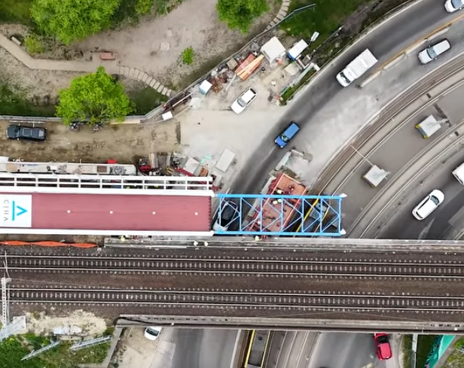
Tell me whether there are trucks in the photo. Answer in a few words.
Yes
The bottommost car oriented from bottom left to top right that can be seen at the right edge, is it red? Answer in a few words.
No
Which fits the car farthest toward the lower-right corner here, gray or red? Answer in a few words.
red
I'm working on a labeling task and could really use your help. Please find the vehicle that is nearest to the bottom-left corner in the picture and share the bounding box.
[142,328,159,341]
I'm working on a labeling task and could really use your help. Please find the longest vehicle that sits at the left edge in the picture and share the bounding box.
[6,125,47,142]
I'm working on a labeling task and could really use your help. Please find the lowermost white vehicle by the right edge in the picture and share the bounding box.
[410,191,443,220]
